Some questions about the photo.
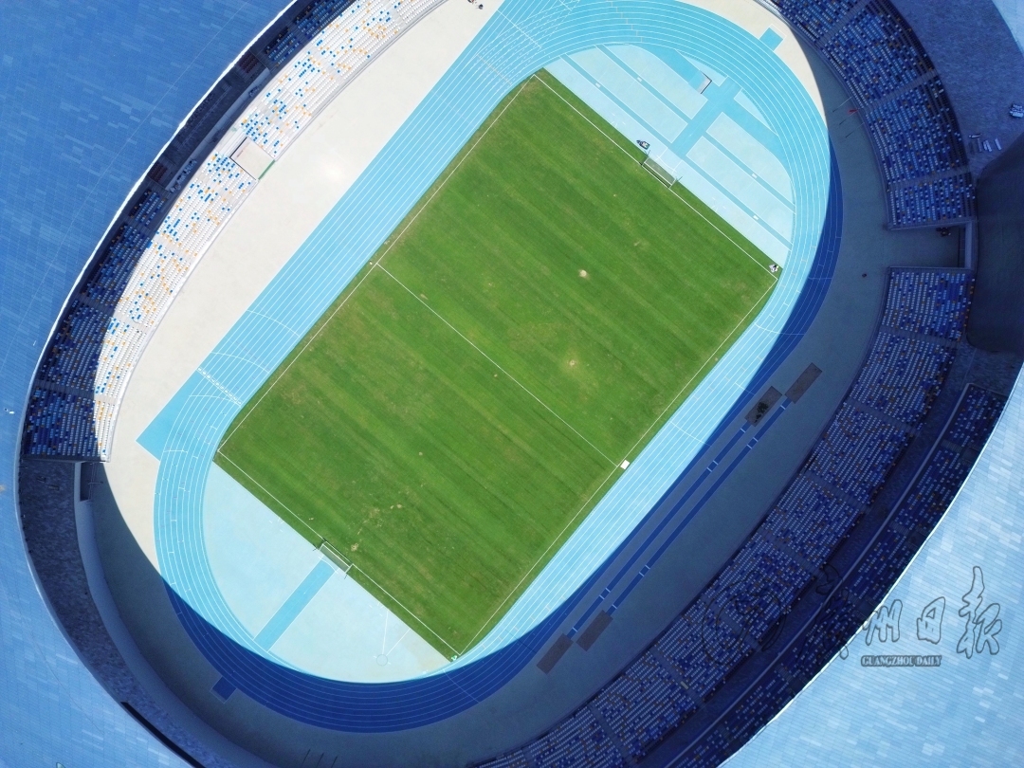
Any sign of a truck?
No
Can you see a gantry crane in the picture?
No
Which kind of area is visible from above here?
sports ground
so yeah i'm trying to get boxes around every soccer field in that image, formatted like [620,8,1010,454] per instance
[213,67,783,662]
